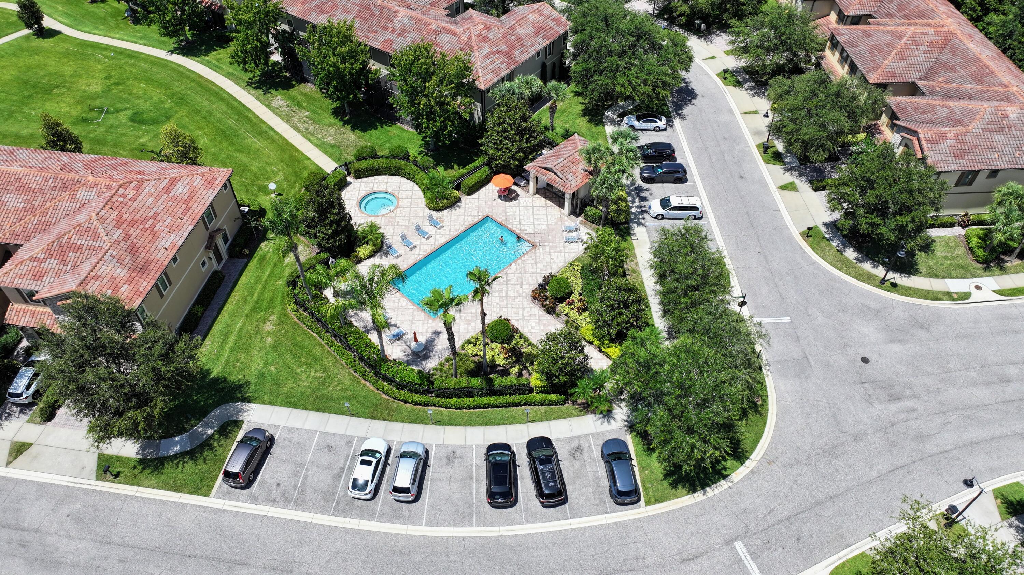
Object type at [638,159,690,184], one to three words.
car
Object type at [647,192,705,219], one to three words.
car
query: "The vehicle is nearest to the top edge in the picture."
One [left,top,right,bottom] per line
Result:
[621,112,668,131]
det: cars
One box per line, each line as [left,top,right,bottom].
[483,442,517,511]
[602,439,641,507]
[633,140,679,163]
[220,427,273,491]
[390,440,428,506]
[647,192,705,219]
[638,159,690,184]
[621,112,668,131]
[526,436,568,511]
[346,436,388,503]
